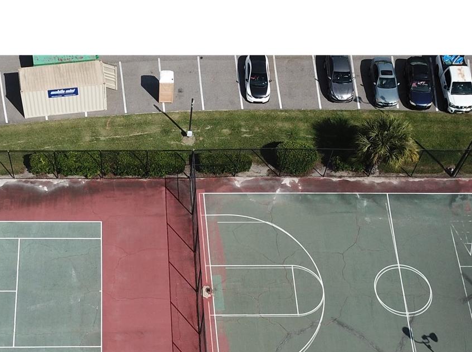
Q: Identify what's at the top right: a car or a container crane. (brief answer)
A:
car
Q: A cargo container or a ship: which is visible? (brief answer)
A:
cargo container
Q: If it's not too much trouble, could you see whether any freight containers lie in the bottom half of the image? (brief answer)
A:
No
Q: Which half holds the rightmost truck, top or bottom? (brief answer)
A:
top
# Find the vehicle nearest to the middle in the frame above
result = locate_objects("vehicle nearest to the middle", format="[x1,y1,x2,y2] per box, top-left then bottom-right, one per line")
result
[244,52,274,102]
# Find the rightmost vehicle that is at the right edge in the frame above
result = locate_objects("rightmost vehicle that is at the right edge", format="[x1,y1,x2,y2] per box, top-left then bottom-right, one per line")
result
[433,52,472,112]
